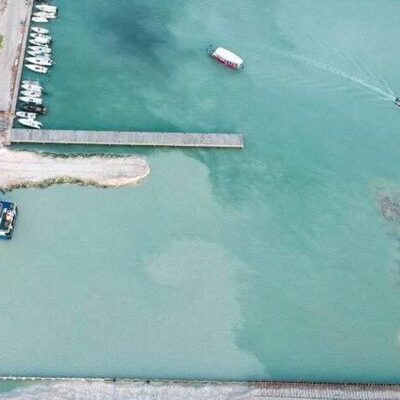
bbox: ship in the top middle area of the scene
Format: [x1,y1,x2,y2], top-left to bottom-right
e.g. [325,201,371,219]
[209,44,248,70]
